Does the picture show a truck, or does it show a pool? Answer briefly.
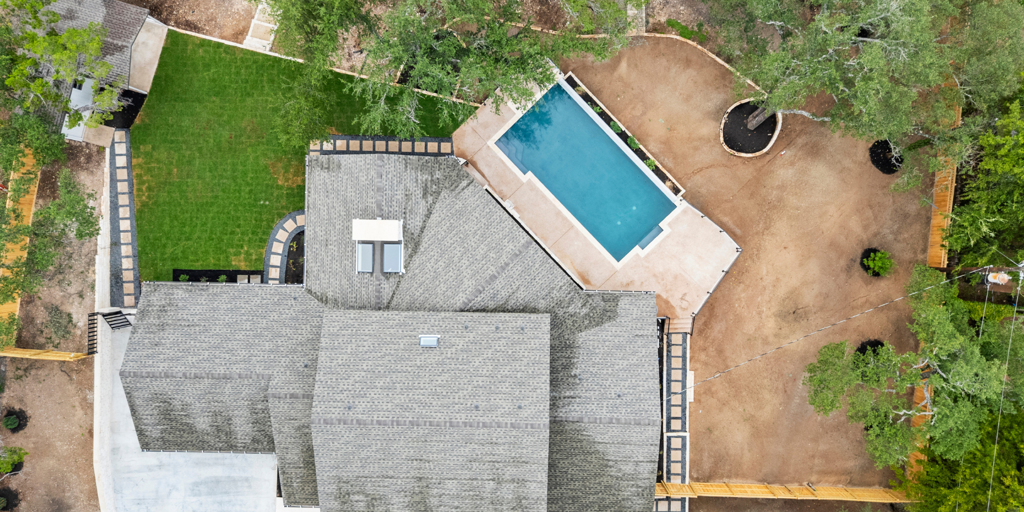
pool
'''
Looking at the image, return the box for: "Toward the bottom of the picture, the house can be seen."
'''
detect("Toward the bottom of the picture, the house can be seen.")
[120,153,663,512]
